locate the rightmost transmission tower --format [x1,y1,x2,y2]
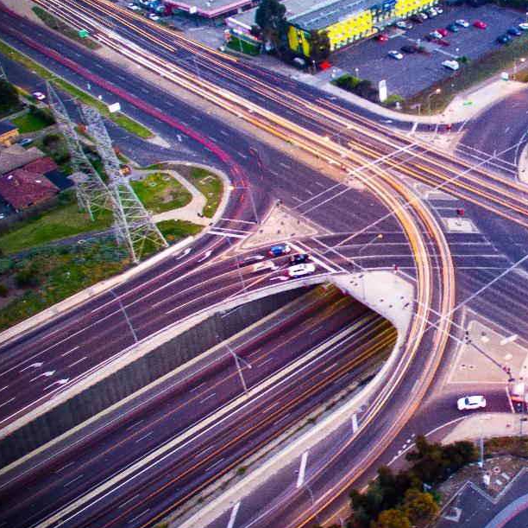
[76,100,173,262]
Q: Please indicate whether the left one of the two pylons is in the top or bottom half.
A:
top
